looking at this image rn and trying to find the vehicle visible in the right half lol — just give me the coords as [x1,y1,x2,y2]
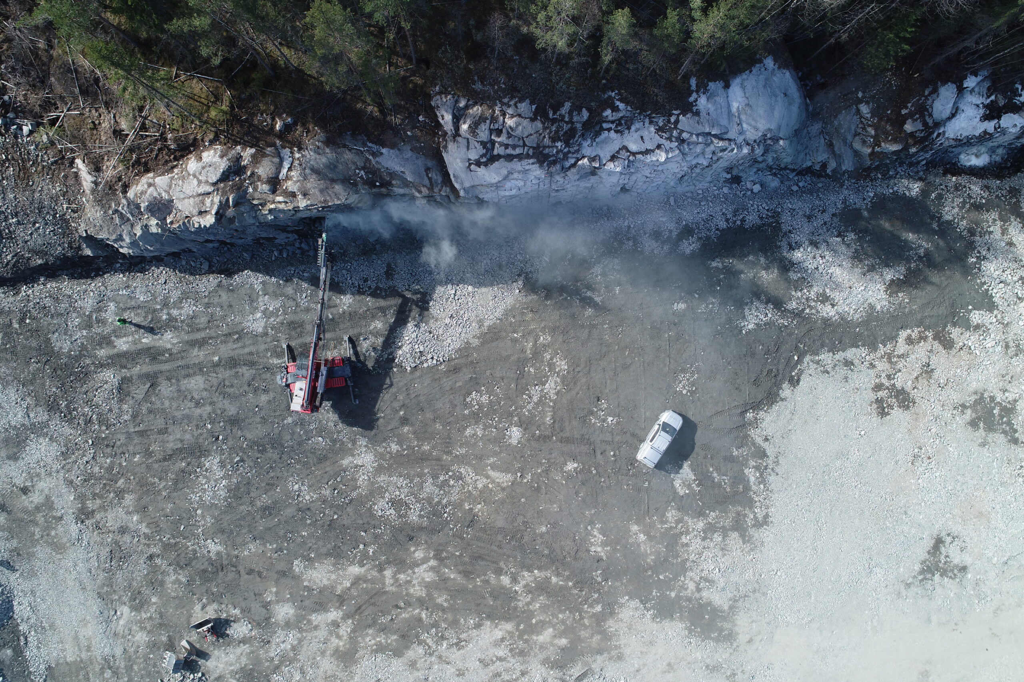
[635,411,684,470]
